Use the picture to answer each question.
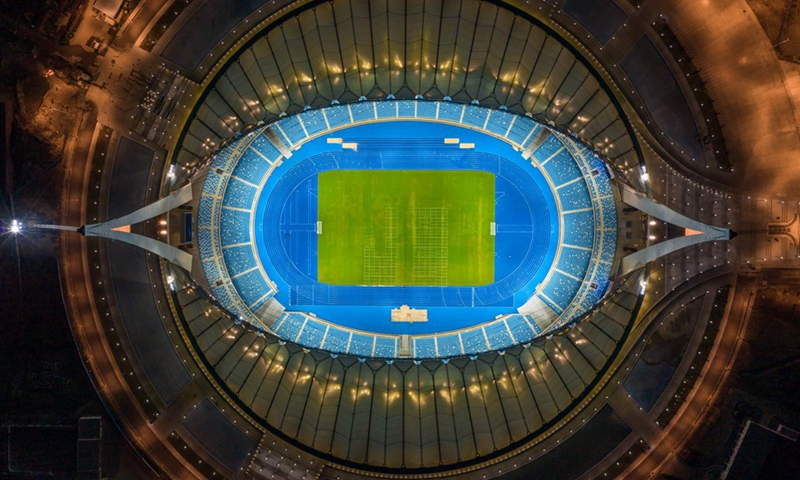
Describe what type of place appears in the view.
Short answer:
sports ground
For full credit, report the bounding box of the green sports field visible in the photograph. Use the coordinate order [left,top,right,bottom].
[318,170,495,287]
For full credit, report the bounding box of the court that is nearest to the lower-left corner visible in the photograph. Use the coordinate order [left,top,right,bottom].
[8,425,78,475]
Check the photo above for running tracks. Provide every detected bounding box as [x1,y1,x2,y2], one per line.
[255,122,559,335]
